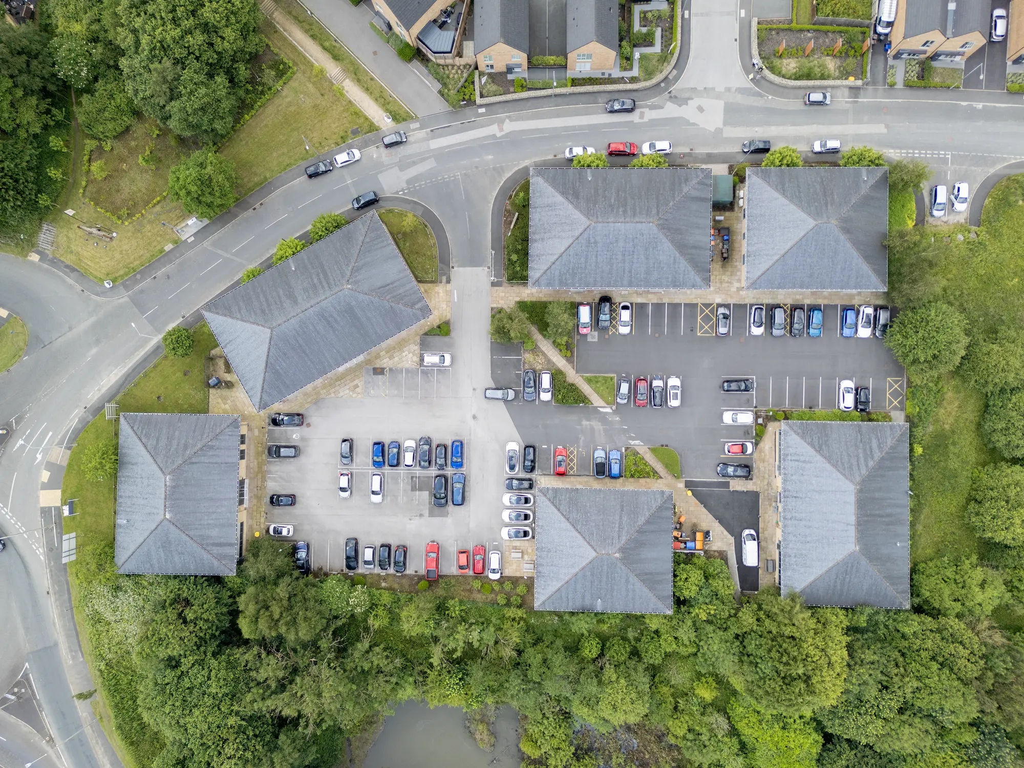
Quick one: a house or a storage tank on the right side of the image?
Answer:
house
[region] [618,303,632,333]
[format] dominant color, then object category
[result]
white car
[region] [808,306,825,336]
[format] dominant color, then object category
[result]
blue car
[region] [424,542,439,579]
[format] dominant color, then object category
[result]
red vehicle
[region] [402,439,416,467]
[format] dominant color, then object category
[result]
white car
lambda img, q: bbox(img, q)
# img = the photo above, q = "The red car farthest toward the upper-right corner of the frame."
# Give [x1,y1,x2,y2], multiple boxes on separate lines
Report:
[607,140,638,156]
